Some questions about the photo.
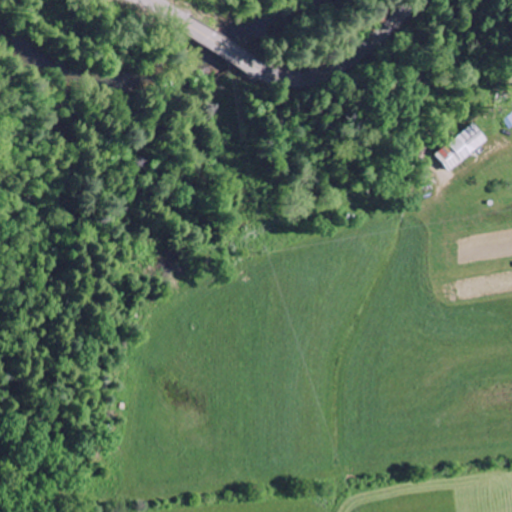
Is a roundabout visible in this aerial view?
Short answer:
No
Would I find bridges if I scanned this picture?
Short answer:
Yes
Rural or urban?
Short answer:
rural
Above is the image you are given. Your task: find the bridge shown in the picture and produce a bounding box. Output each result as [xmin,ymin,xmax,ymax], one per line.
[186,18,263,76]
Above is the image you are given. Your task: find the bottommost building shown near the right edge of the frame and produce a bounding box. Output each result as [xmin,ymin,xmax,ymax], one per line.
[436,122,488,171]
